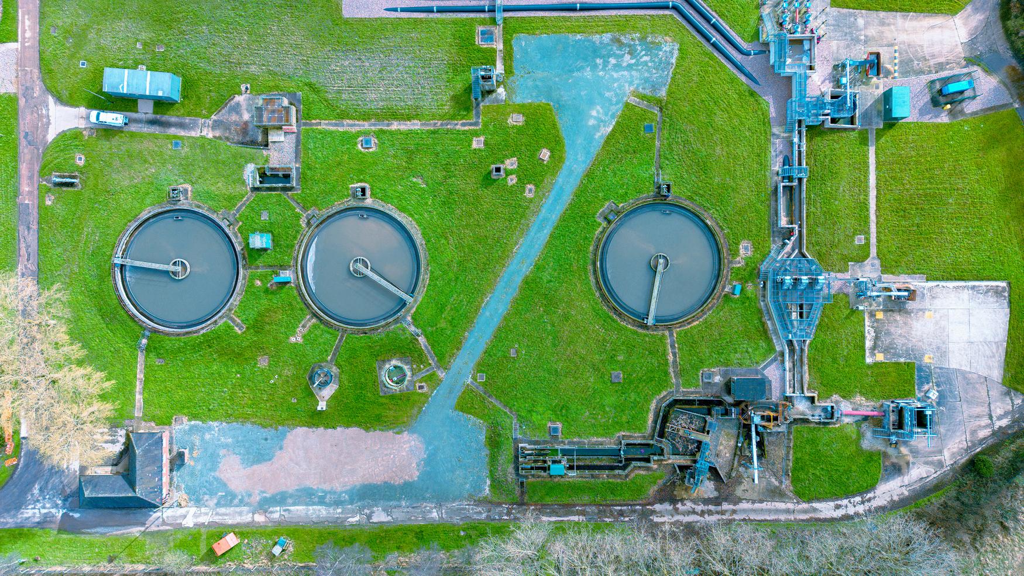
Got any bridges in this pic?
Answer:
Yes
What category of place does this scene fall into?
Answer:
industrial area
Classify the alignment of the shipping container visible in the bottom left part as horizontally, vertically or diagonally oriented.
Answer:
diagonally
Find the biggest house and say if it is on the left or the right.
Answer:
left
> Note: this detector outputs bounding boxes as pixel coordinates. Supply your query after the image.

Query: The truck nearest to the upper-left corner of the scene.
[85,106,127,127]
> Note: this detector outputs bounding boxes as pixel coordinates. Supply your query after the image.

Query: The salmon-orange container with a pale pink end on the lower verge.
[212,529,244,556]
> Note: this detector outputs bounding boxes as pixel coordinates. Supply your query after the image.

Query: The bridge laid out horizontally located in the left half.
[106,253,180,272]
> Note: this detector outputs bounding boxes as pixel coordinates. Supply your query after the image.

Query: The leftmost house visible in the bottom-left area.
[79,432,170,508]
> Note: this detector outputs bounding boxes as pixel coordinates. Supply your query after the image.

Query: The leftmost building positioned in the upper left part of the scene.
[102,68,182,102]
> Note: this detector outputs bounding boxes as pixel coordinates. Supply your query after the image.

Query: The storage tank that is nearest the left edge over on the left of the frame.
[106,206,242,334]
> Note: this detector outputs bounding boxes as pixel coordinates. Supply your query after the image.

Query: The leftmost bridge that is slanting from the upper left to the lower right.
[353,261,416,307]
